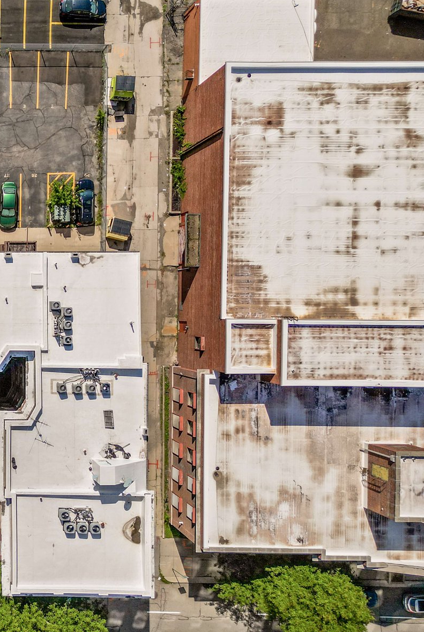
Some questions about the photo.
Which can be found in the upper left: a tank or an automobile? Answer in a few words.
automobile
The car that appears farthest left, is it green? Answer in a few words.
Yes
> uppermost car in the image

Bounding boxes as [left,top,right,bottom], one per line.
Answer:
[59,0,105,21]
